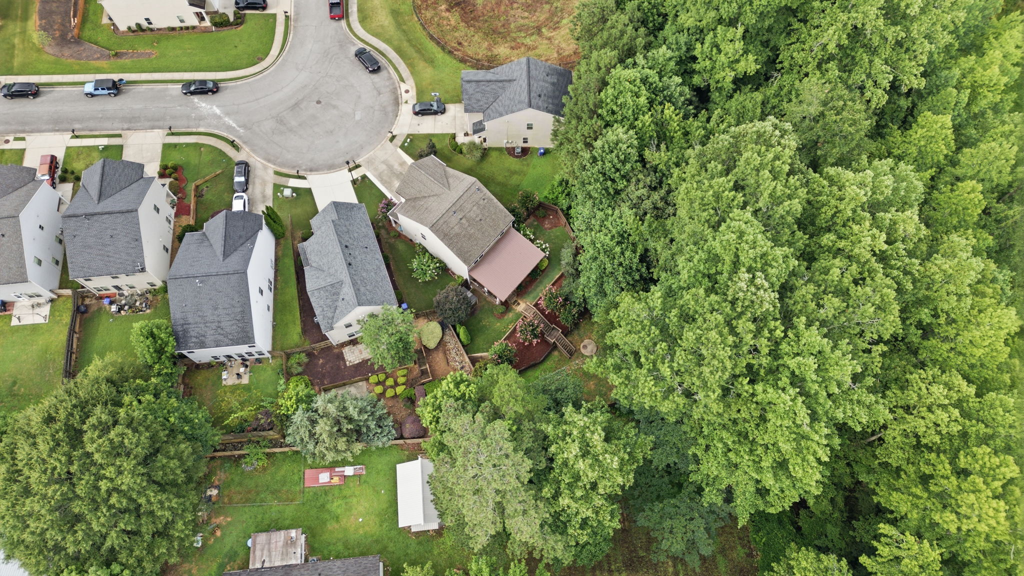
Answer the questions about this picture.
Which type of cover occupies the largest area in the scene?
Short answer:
trees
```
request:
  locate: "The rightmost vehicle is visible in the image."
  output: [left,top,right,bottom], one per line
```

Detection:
[409,99,446,117]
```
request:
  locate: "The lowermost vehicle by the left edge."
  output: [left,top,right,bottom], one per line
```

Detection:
[35,153,62,186]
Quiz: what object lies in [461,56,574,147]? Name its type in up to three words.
house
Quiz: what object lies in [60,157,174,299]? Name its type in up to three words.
house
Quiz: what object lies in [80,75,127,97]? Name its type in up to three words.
car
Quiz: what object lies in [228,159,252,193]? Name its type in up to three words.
car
